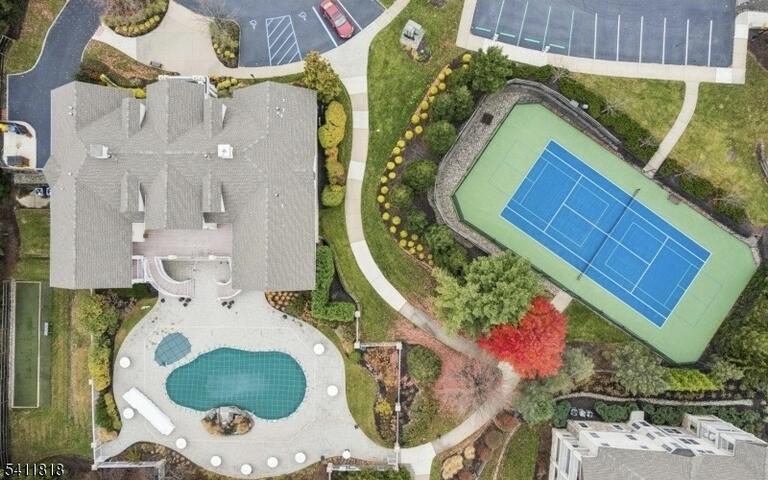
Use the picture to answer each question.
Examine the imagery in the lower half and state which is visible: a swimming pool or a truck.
swimming pool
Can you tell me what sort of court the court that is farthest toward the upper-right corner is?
tennis court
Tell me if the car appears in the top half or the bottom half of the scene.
top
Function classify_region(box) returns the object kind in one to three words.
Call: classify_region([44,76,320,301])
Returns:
building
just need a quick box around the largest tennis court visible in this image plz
[454,103,757,364]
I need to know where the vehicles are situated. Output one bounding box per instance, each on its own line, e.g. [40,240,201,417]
[321,0,352,35]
